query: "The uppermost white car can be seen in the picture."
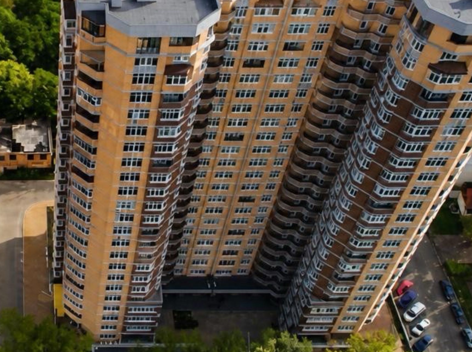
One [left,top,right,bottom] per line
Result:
[405,303,426,322]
